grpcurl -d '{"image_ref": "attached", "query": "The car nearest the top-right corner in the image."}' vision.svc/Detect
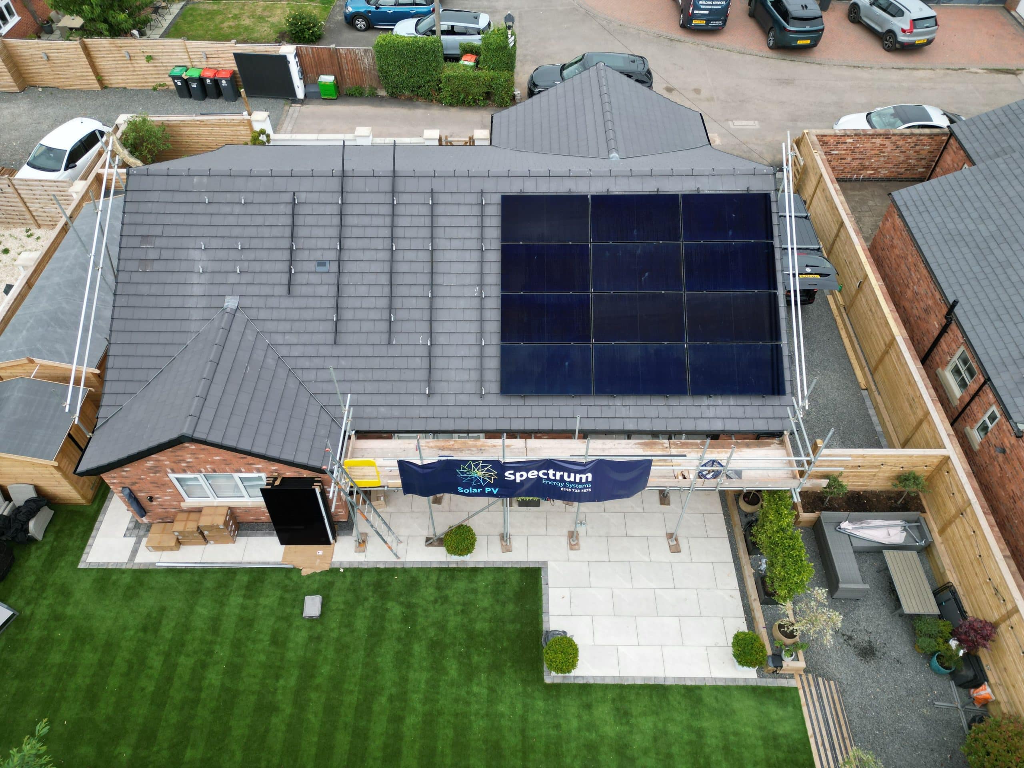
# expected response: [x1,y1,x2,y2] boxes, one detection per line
[854,0,945,51]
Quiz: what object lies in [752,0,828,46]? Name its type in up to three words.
car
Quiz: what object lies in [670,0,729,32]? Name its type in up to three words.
van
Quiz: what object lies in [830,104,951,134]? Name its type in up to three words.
car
